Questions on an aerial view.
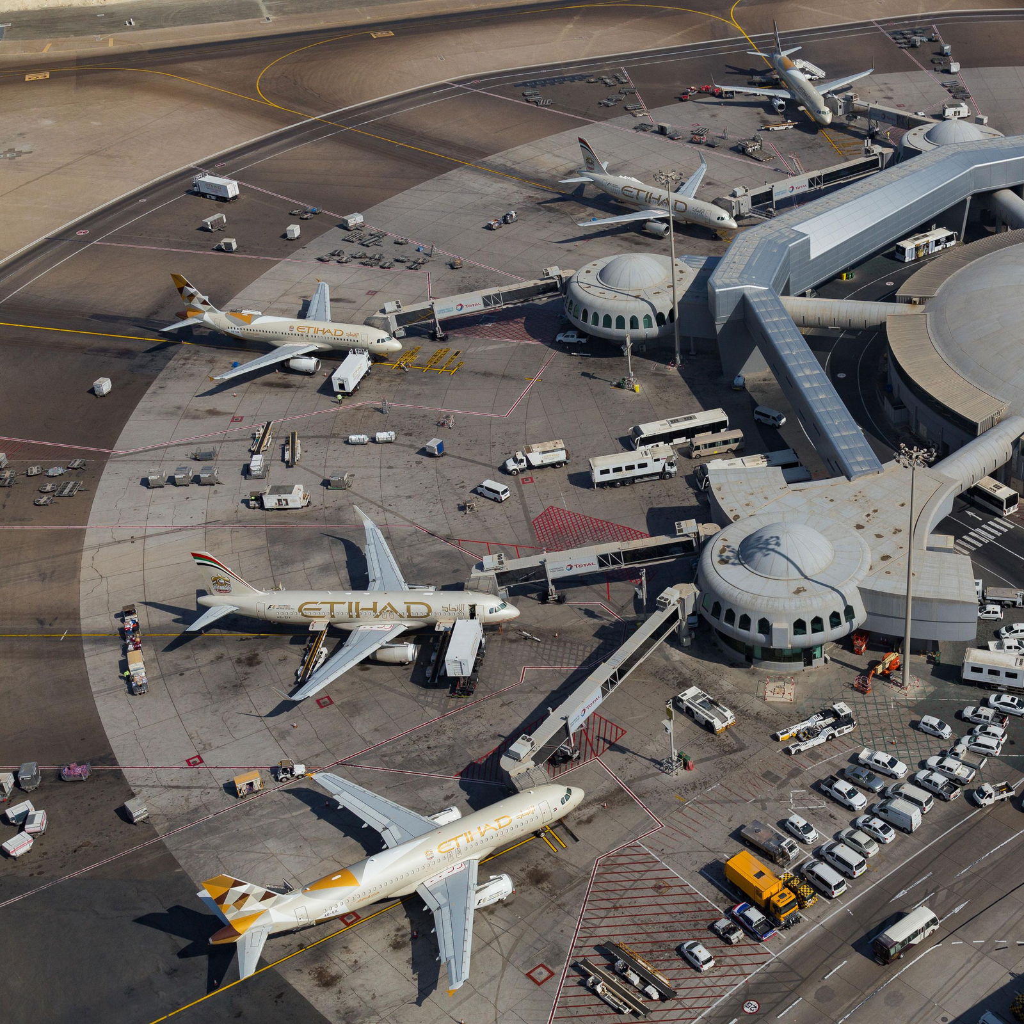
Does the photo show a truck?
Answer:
Yes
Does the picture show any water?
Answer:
No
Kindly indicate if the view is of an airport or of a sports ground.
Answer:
airport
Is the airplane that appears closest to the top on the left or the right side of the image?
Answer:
right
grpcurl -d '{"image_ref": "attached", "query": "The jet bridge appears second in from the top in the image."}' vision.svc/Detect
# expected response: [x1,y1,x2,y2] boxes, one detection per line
[716,152,899,222]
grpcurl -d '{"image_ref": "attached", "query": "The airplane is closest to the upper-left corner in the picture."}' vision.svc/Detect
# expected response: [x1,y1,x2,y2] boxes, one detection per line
[159,273,400,383]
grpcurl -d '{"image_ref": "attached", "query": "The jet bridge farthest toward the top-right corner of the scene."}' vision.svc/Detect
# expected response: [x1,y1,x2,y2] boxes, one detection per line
[827,86,928,138]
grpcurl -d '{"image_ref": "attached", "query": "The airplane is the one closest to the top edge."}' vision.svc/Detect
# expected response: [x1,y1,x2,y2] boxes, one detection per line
[710,24,875,126]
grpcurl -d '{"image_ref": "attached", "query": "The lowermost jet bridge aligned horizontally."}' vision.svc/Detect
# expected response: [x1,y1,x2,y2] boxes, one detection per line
[464,520,726,610]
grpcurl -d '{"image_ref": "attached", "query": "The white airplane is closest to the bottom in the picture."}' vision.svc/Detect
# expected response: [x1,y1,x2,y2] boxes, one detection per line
[199,770,584,999]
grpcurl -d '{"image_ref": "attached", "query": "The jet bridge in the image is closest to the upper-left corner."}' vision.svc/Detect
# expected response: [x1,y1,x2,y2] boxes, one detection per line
[366,267,578,347]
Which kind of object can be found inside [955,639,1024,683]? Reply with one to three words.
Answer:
truck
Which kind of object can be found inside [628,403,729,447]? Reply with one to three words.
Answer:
bus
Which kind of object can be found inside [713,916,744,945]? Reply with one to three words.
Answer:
work vehicle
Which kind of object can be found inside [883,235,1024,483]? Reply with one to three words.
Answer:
building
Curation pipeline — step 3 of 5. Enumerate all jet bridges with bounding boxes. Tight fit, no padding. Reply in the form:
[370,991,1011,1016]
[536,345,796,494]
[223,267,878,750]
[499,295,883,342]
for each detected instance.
[827,86,928,138]
[716,152,899,222]
[366,267,578,347]
[491,572,703,799]
[464,520,726,610]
